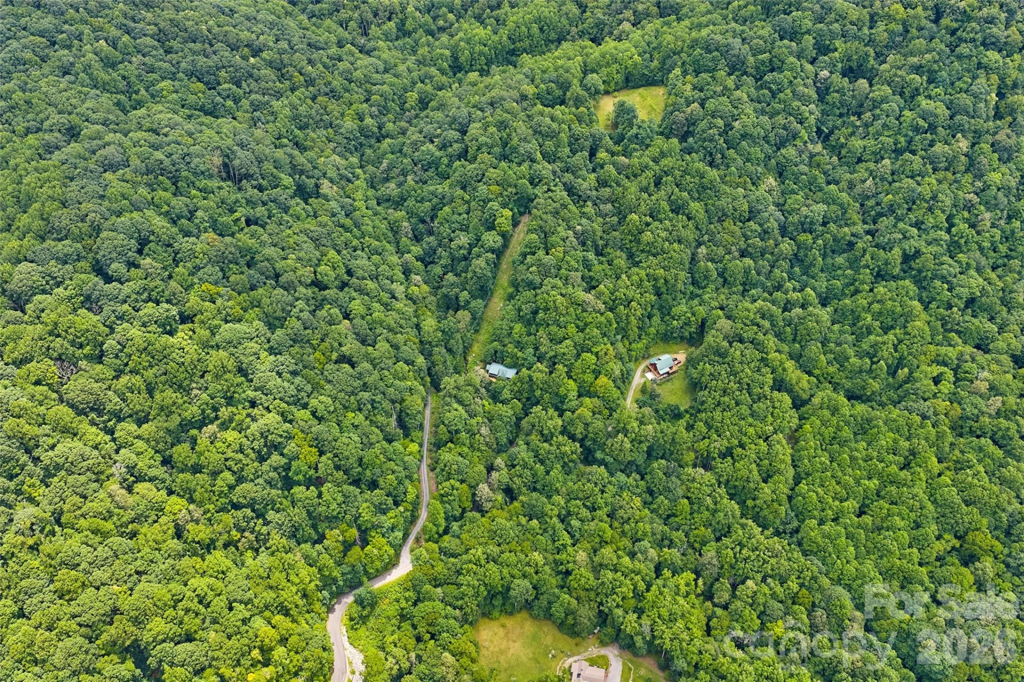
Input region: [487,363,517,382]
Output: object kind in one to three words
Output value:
building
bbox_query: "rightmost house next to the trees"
[648,354,685,380]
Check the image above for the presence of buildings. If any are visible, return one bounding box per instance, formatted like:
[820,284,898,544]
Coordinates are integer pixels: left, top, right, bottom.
[648,354,685,380]
[487,363,517,382]
[571,659,607,682]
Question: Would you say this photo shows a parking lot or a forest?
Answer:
forest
